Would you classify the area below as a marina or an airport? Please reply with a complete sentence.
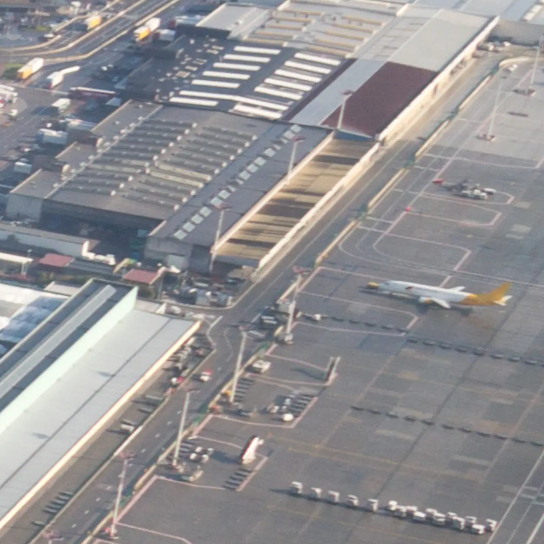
This image shows an airport.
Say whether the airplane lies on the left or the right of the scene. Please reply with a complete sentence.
The airplane appears in the right half of the scene.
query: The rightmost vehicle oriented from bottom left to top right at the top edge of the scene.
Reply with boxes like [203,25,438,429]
[137,20,158,39]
